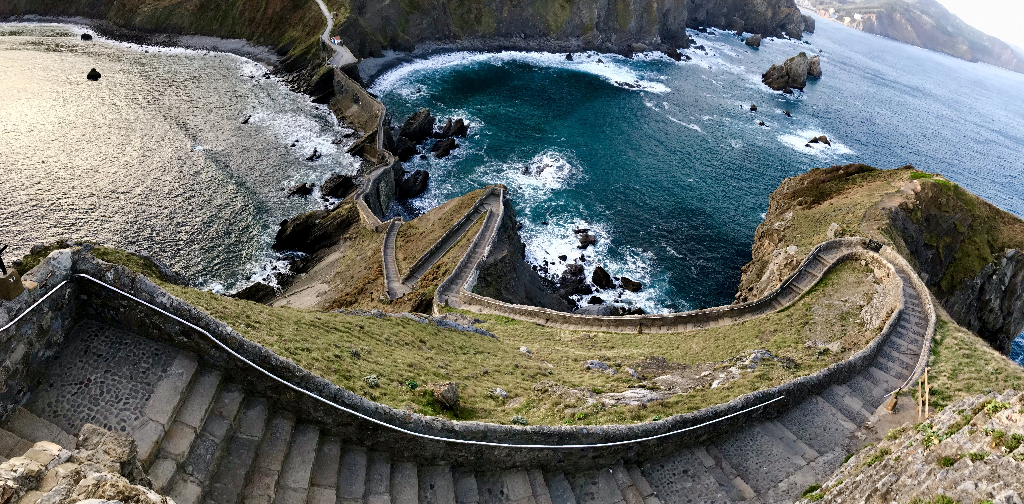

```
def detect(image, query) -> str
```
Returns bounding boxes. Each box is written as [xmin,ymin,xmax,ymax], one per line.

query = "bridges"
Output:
[337,65,398,227]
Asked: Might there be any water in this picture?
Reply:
Yes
